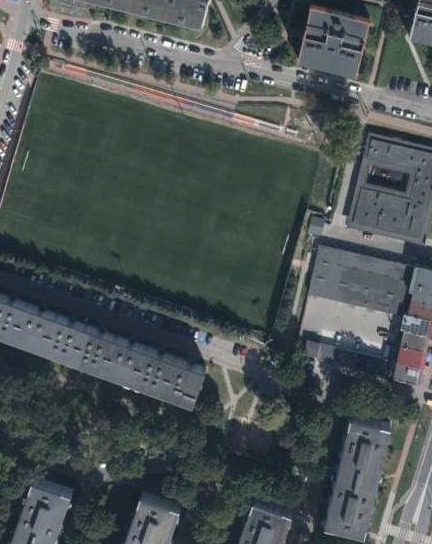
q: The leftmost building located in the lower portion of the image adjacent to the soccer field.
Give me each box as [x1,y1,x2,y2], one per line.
[0,287,209,409]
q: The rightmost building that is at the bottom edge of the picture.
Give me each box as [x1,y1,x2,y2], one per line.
[323,417,395,543]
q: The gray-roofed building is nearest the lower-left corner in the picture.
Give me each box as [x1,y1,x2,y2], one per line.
[10,477,73,544]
